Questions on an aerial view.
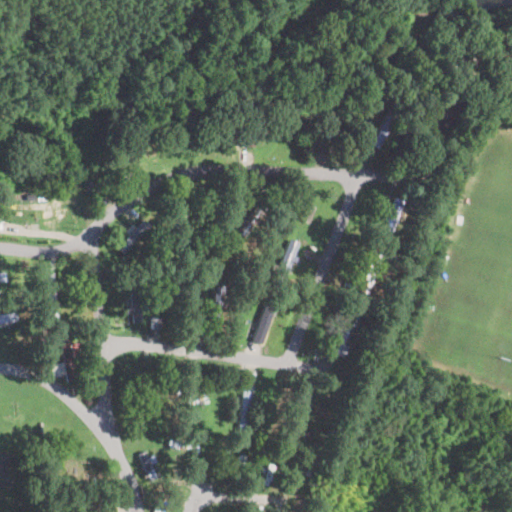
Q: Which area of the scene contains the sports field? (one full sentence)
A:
The sports field sits in the right section of the image.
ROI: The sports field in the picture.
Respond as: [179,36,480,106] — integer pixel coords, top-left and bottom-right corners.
[412,124,512,397]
